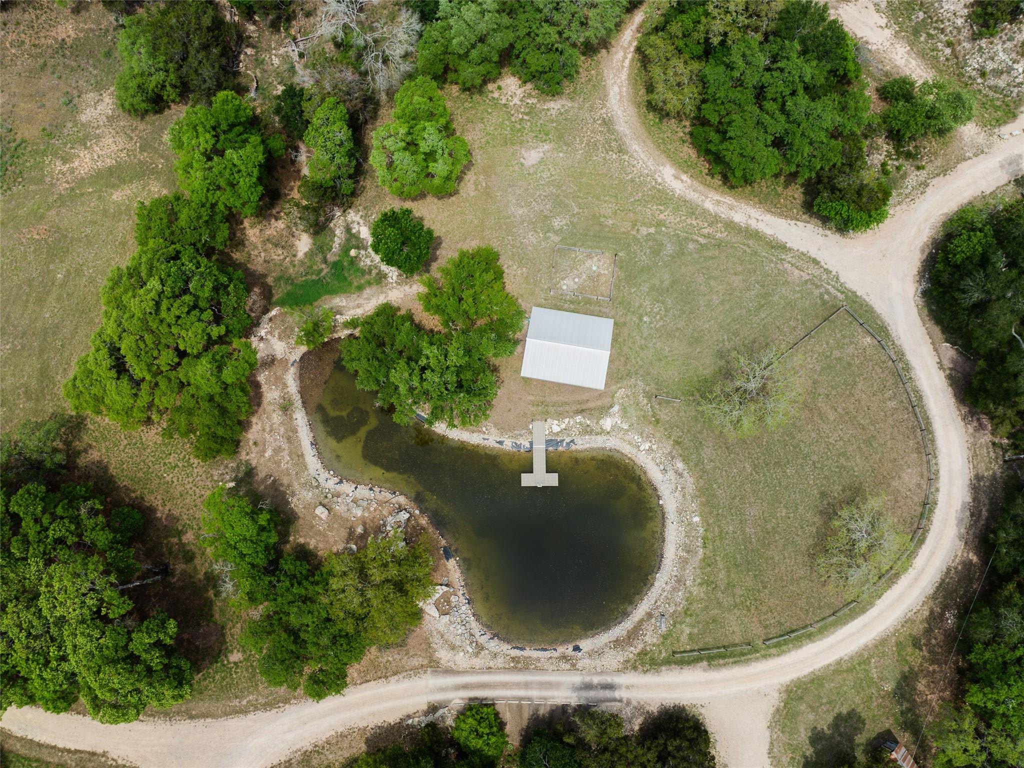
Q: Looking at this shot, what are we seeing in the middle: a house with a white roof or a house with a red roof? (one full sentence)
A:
It is a house with a white roof that can be seen in the middle.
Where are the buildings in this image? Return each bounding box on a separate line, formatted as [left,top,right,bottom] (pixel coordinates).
[878,734,919,768]
[521,306,614,390]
